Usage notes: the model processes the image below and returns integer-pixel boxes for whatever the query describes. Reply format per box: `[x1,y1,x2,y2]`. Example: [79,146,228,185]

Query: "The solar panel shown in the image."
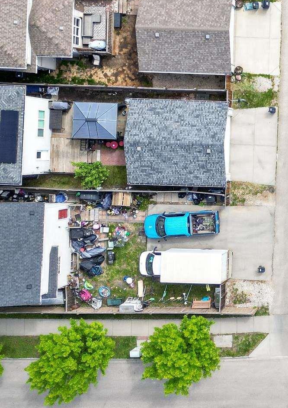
[0,110,18,163]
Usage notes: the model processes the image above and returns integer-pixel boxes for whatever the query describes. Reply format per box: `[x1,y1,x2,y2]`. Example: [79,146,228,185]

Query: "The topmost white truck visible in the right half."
[140,246,235,284]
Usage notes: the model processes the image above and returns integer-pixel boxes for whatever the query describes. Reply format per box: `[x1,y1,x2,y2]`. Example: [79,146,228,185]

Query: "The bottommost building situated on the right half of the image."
[123,97,240,187]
